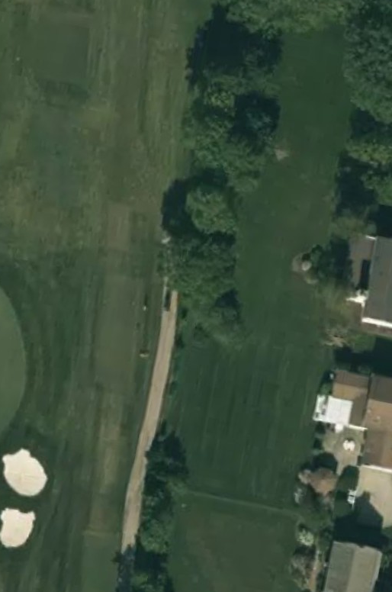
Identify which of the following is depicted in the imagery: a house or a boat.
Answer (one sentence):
Looking from above, you can make out a house.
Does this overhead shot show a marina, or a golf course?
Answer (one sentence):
This looks like a golf course.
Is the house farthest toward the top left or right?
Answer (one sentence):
The house farthest toward the top is on the right side of the image.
